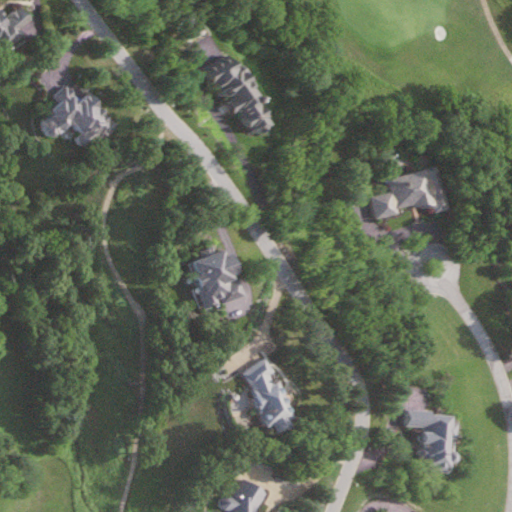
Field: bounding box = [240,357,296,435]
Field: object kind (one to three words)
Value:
house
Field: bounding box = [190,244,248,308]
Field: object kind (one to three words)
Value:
house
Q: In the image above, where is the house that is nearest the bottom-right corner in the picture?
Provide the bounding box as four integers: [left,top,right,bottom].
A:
[402,411,460,473]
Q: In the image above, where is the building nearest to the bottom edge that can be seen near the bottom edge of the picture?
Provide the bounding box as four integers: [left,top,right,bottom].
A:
[218,474,272,512]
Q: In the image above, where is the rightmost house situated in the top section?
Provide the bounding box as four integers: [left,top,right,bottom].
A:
[371,166,450,222]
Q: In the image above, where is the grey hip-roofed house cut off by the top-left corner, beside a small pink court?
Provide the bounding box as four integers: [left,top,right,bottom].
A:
[0,6,35,39]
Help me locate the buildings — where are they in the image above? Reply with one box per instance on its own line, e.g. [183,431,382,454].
[402,411,460,473]
[204,54,276,138]
[40,85,110,148]
[190,244,248,308]
[371,166,450,222]
[218,474,272,512]
[0,6,35,39]
[240,357,296,435]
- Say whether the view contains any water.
No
